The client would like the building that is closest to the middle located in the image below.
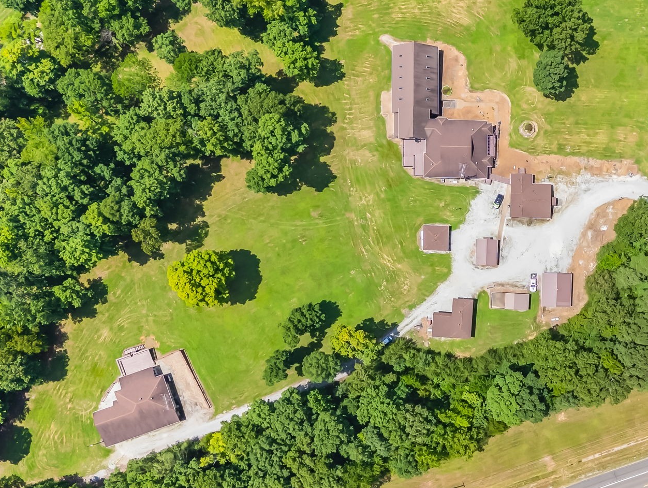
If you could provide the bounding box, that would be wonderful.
[422,225,449,251]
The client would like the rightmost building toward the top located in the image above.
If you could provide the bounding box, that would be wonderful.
[510,169,561,220]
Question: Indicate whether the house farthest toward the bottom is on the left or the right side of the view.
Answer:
left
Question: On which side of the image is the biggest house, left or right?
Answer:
right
